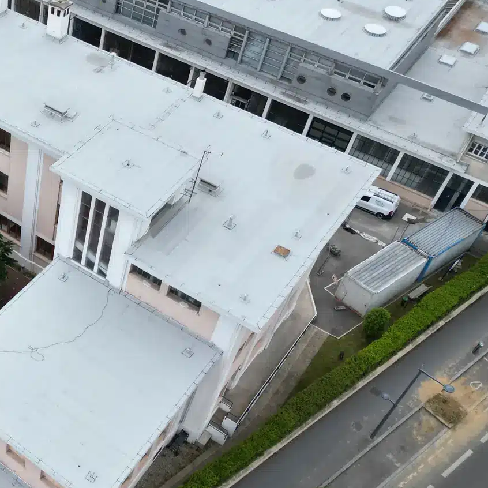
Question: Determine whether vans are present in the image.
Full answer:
Yes, you can see a van in this photo.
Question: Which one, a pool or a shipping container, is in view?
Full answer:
There is a shipping container in the scene.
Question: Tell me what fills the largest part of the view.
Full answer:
What you mostly see from above here is buildings.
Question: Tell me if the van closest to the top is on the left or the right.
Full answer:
The van closest to the top appears in the right half of the scene.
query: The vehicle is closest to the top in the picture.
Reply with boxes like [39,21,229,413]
[357,184,406,222]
